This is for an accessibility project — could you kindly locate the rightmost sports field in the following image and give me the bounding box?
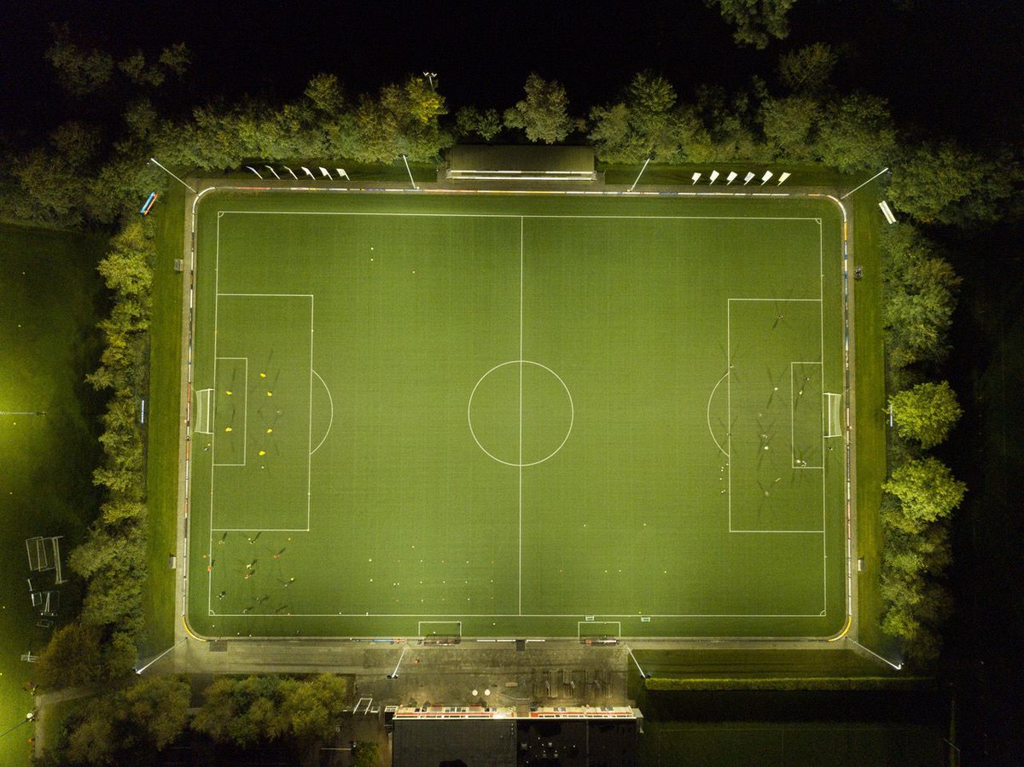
[960,224,1024,674]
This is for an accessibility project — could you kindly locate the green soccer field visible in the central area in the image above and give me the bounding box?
[188,190,846,637]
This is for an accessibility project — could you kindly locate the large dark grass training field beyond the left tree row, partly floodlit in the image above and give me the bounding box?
[0,224,108,767]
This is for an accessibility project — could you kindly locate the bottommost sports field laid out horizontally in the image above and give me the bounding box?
[642,717,940,767]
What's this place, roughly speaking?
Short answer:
sports ground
